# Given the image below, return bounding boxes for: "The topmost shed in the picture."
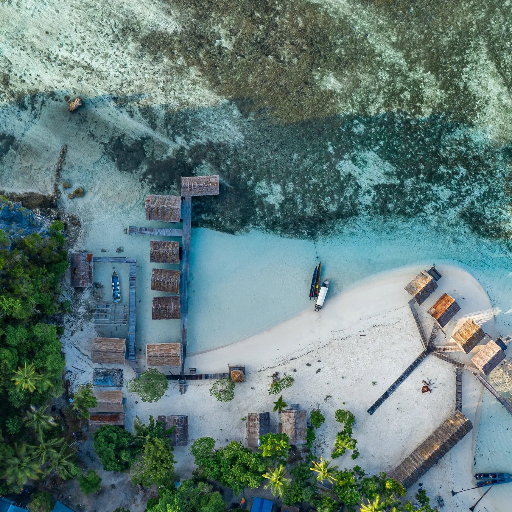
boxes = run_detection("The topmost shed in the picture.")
[181,175,221,197]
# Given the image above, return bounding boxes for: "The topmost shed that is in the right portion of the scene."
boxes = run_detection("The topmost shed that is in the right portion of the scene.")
[404,270,438,306]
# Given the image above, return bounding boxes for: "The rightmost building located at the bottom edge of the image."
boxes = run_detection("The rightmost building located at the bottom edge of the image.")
[386,407,476,492]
